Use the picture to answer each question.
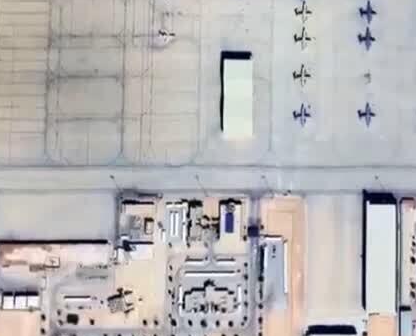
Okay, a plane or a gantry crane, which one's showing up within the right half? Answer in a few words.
plane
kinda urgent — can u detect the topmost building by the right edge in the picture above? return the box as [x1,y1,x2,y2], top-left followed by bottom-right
[367,202,397,314]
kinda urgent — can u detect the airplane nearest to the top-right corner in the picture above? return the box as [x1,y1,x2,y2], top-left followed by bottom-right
[361,3,377,26]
